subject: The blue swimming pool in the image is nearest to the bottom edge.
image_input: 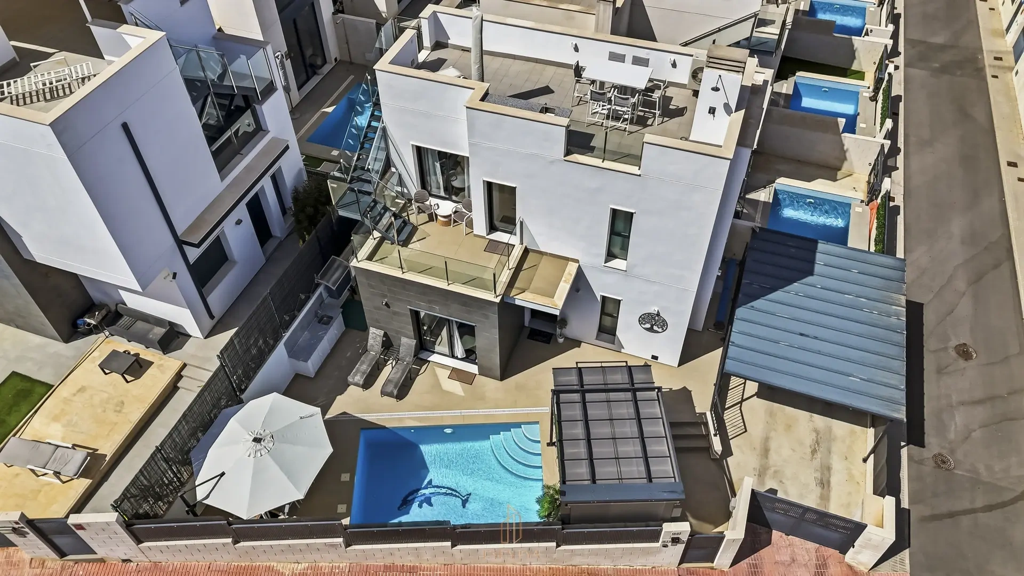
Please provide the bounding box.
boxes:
[350,423,545,536]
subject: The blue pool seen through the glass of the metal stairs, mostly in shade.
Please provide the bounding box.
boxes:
[297,77,386,150]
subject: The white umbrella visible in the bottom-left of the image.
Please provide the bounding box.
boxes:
[182,392,335,519]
